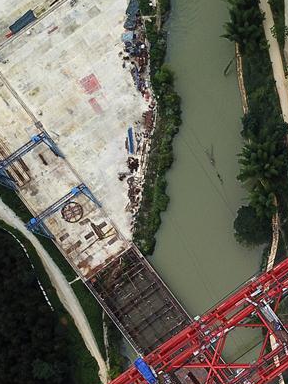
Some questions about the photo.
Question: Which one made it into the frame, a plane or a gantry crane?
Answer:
gantry crane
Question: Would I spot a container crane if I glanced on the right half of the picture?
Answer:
No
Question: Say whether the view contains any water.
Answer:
Yes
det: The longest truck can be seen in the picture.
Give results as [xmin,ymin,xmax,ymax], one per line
[8,9,34,33]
